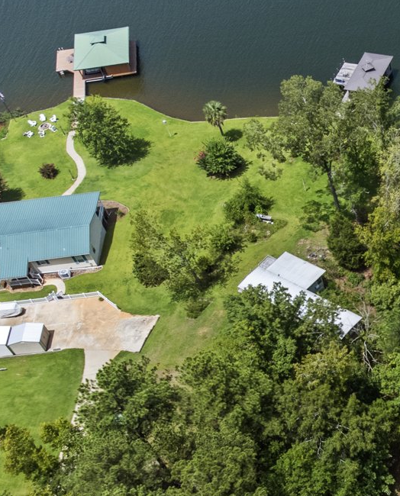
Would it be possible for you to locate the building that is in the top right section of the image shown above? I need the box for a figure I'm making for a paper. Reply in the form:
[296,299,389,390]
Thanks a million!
[339,51,393,113]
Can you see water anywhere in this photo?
Yes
